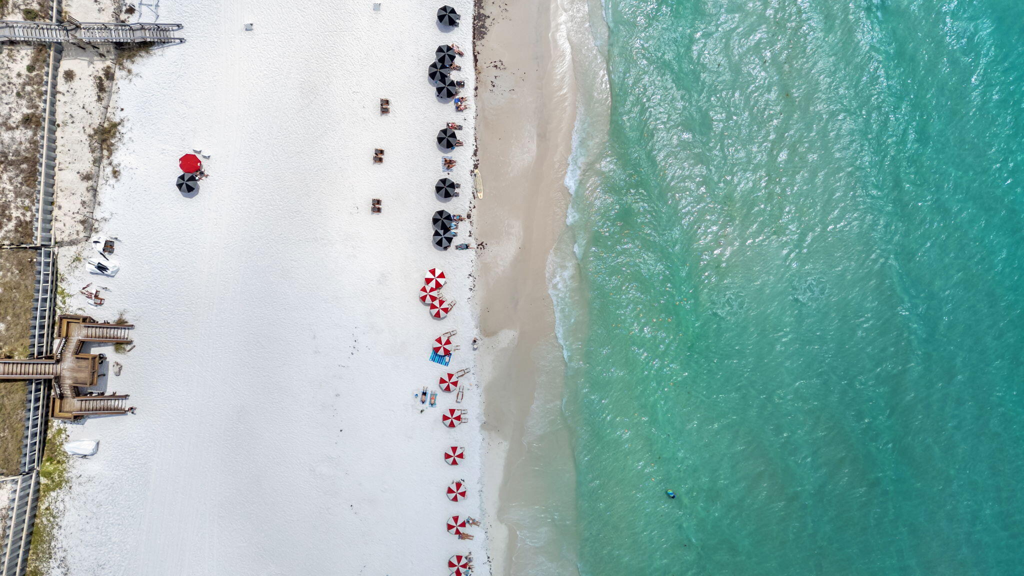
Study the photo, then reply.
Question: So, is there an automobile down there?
No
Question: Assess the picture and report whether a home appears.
No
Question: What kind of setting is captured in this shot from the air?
beach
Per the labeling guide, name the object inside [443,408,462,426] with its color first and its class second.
white umbrella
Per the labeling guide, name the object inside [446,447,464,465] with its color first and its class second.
white umbrella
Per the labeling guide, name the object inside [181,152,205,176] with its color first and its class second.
red umbrella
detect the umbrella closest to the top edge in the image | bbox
[437,7,458,29]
